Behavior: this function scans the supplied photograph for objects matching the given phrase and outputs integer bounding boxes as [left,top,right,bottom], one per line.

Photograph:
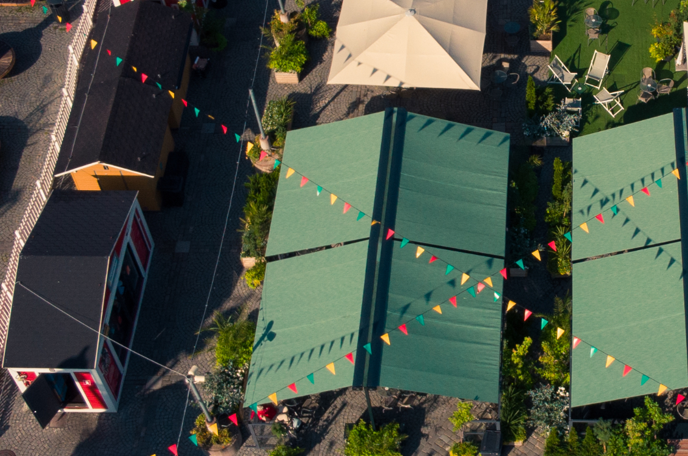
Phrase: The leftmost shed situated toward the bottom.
[1,192,157,438]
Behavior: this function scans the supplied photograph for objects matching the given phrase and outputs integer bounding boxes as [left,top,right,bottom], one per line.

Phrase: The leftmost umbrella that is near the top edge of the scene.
[327,0,486,107]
